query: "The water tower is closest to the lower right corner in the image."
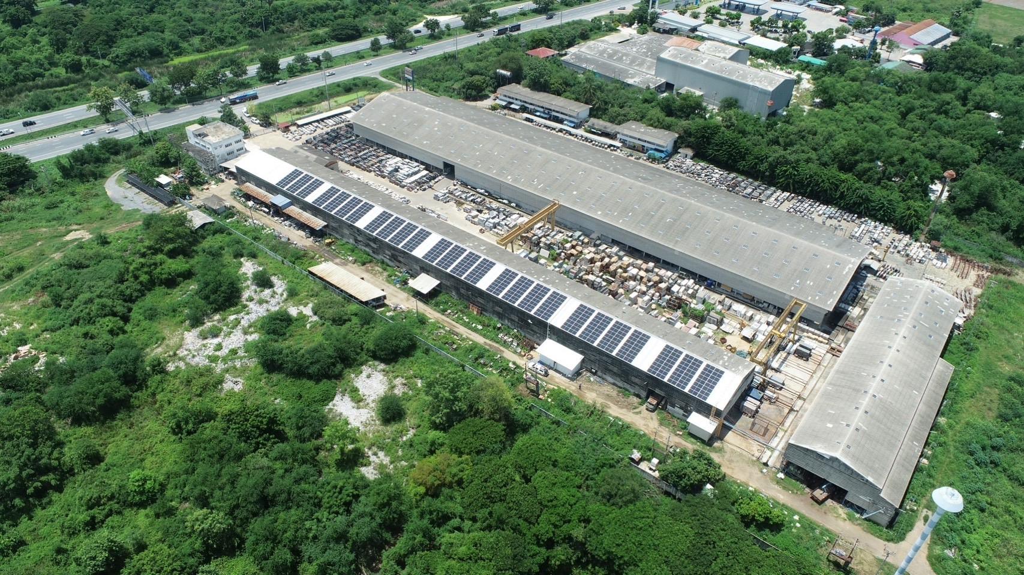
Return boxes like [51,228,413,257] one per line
[893,490,963,575]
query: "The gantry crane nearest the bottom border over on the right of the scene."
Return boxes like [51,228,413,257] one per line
[744,296,812,390]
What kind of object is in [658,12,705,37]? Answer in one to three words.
building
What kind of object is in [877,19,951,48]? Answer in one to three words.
building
